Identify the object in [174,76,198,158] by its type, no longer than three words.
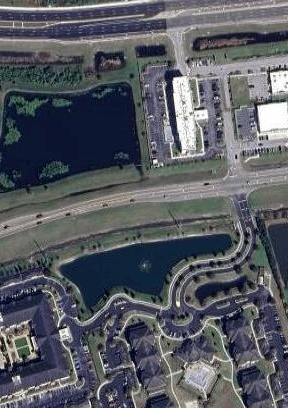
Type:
building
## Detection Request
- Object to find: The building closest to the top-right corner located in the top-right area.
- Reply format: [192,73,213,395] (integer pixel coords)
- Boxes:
[270,70,288,96]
